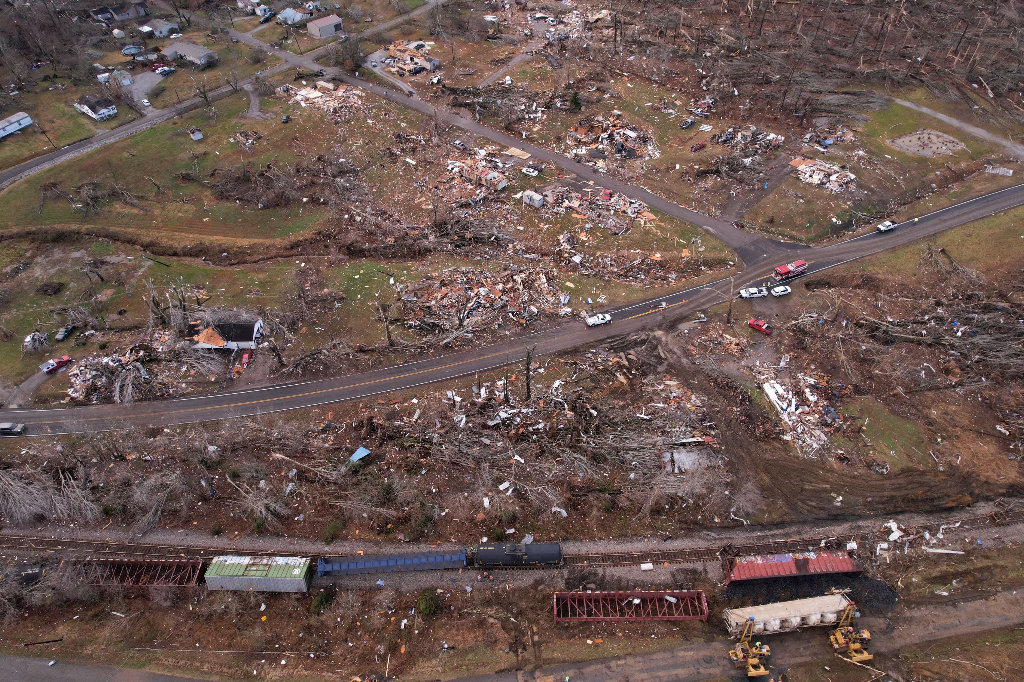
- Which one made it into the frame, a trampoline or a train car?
train car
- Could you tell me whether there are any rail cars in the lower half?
Yes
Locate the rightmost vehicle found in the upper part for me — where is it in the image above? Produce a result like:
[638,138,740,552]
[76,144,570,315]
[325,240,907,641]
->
[875,218,899,230]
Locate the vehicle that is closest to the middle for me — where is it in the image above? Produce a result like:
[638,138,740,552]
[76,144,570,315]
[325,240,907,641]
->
[584,309,612,324]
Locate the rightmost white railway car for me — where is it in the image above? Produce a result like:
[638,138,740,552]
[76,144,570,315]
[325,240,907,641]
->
[727,583,871,634]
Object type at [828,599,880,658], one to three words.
work vehicle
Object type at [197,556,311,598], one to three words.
rail car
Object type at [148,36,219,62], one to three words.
house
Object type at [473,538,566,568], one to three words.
rail car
